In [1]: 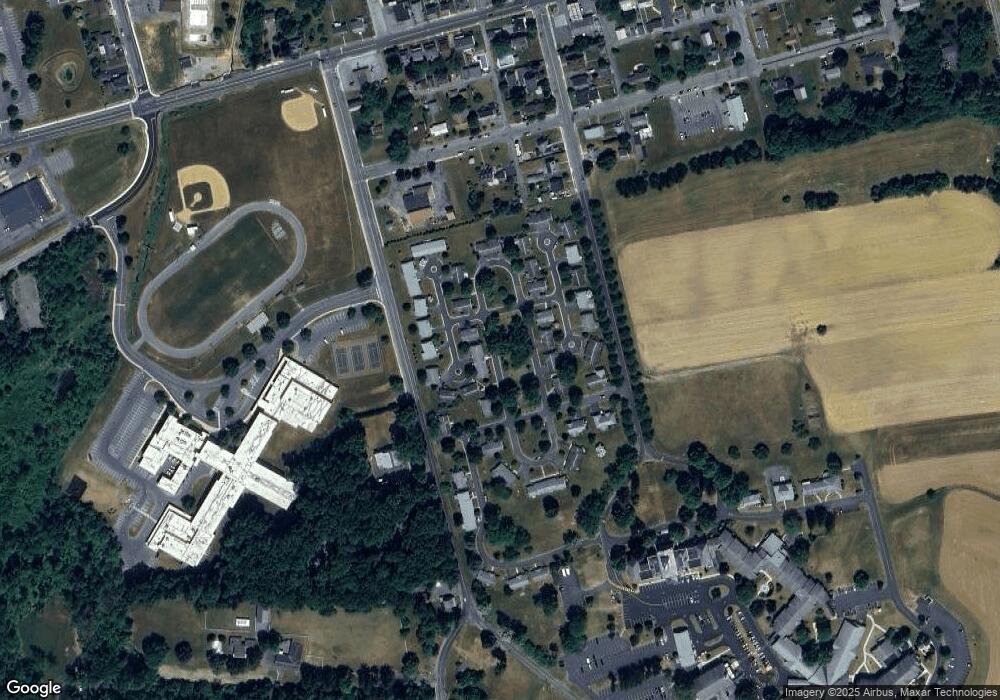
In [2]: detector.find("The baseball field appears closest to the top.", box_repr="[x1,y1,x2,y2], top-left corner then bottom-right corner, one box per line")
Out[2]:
[281,89,323,131]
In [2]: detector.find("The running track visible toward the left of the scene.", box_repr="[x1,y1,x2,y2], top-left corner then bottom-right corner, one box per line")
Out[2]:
[136,200,308,358]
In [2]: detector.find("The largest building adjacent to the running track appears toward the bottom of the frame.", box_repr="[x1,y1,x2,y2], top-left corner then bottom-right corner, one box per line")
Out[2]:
[138,356,339,566]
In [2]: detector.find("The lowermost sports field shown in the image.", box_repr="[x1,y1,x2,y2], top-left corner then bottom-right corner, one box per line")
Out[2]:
[147,212,296,347]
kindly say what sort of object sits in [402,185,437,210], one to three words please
building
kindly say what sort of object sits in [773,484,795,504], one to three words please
house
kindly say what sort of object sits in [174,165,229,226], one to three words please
baseball field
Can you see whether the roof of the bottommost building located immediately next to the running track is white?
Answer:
Yes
